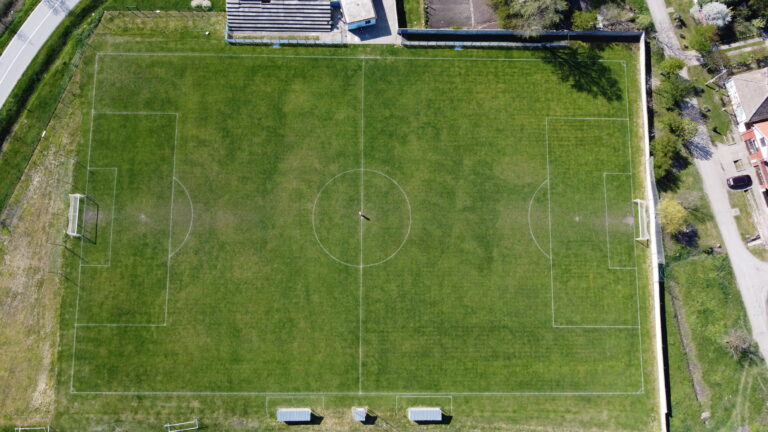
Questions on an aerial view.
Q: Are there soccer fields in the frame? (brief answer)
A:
Yes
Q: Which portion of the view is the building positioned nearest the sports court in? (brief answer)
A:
top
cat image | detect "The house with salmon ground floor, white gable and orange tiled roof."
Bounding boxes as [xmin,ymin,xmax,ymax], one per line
[733,122,768,189]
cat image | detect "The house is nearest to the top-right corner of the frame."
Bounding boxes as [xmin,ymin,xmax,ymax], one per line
[725,74,768,128]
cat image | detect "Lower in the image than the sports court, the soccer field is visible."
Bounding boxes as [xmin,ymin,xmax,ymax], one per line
[68,52,645,416]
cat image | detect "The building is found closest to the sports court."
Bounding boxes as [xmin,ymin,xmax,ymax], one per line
[342,0,377,30]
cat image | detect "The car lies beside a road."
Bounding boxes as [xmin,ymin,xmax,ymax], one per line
[728,176,753,189]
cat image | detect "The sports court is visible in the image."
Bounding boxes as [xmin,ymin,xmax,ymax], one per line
[430,0,499,28]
